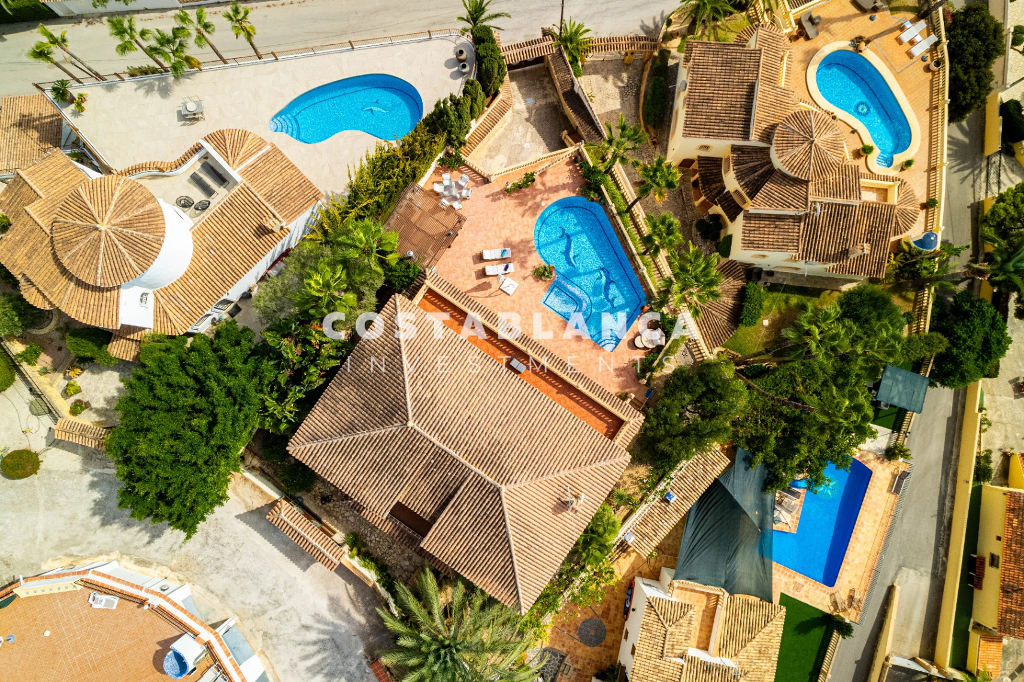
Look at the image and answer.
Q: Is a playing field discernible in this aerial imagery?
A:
No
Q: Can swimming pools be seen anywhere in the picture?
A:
Yes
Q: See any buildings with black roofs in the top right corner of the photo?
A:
No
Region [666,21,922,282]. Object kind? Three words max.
house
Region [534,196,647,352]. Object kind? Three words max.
swimming pool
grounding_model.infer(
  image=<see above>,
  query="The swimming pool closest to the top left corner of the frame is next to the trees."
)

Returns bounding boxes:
[270,74,423,143]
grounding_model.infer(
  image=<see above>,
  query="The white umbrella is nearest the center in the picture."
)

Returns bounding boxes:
[496,276,520,296]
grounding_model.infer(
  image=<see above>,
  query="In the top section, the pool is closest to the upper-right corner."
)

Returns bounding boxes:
[807,40,920,173]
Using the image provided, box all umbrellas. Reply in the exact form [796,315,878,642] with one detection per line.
[775,509,790,527]
[496,276,520,296]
